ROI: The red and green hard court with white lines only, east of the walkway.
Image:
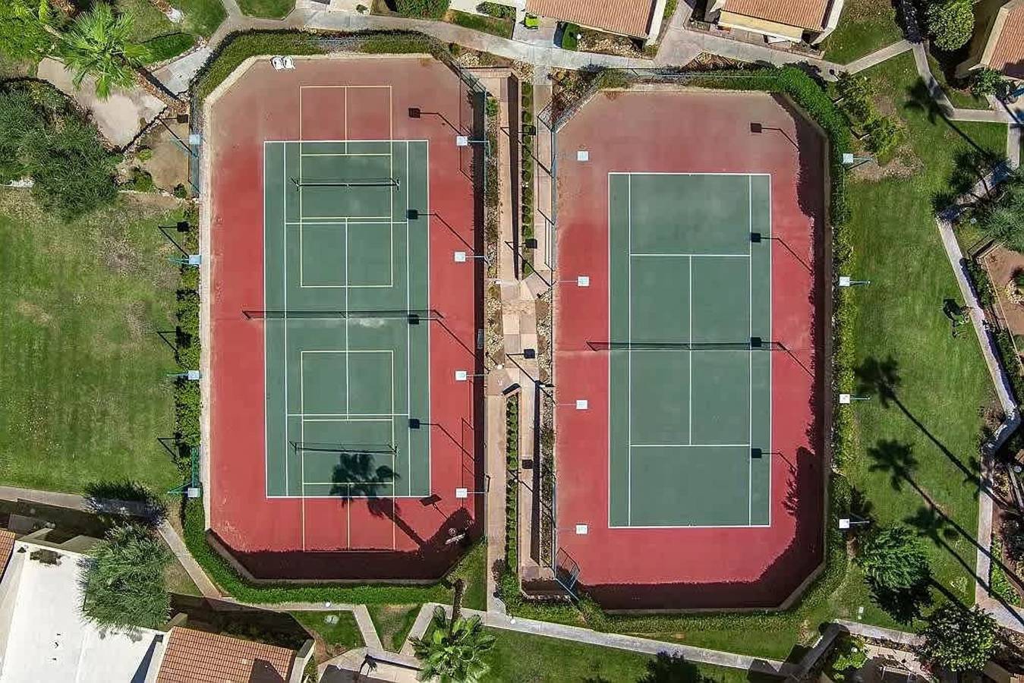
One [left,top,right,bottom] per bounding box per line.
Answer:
[557,92,824,609]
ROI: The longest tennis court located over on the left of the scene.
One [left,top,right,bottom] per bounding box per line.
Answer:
[210,59,484,578]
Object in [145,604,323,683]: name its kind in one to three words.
house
